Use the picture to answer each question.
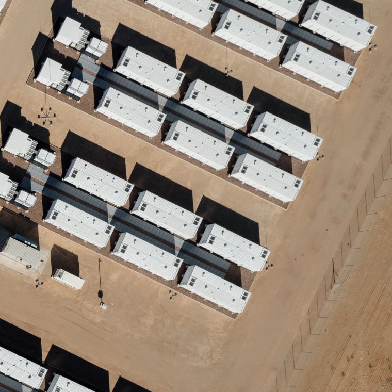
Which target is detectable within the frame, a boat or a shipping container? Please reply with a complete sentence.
The one in the frame is a shipping container.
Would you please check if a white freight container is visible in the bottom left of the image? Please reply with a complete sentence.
Yes, looking in the bottom left of the image, one can make out a white freight container.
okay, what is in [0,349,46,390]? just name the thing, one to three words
shipping container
